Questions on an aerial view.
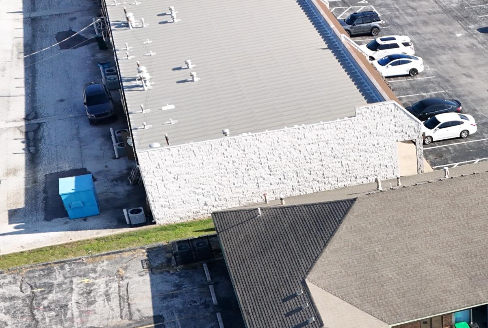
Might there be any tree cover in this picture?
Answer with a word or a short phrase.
No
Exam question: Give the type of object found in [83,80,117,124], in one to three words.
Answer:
car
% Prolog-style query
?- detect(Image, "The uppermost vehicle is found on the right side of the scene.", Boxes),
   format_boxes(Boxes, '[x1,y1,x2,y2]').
[340,8,383,36]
